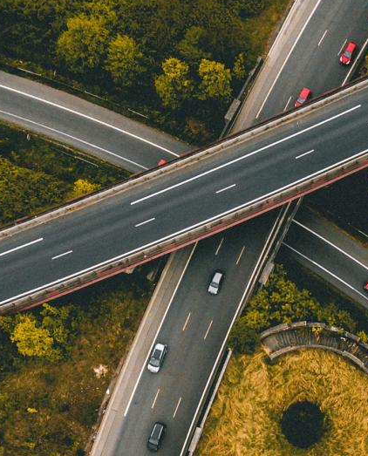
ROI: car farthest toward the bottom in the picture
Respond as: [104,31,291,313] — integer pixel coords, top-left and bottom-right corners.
[145,419,166,453]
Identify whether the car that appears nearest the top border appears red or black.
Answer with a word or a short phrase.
red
